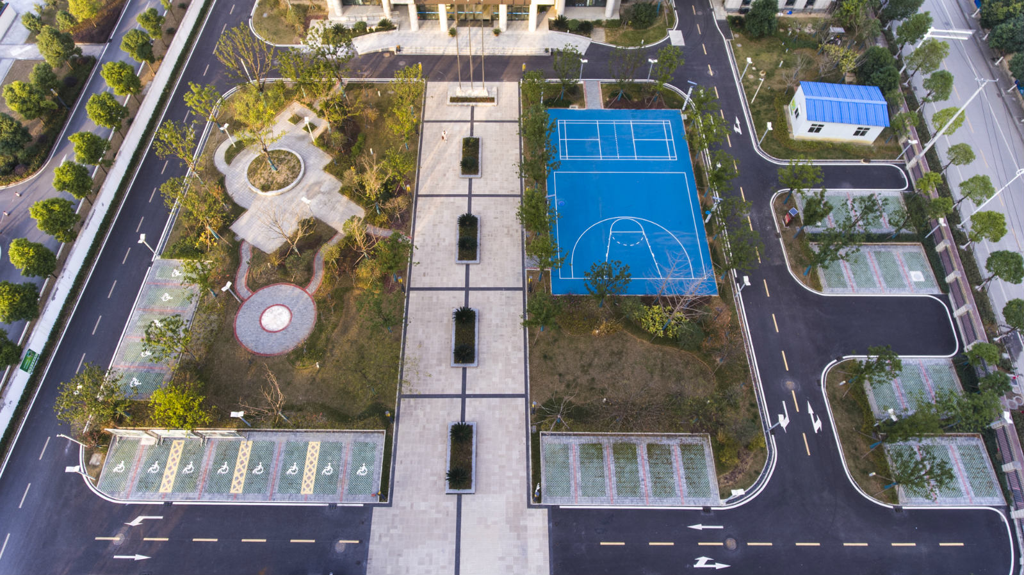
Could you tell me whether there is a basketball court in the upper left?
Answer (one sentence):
No, I can find no basketball court in the upper left.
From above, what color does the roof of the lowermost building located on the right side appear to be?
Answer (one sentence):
The roof over the lowermost building located on the right side appears blue.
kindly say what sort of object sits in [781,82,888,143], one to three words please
building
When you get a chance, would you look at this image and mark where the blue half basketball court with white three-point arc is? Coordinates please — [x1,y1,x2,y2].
[547,162,721,296]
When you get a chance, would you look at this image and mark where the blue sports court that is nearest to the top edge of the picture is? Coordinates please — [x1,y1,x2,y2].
[544,106,694,165]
